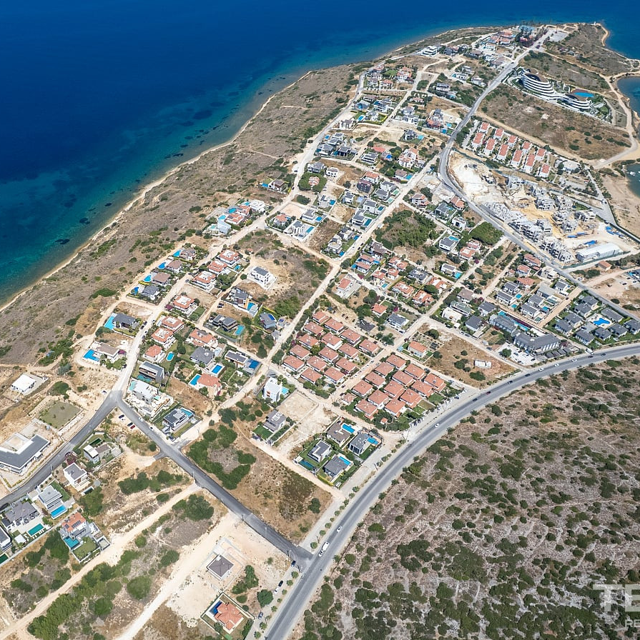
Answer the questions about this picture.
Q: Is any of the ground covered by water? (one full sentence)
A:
Yes, water shows up in the scene.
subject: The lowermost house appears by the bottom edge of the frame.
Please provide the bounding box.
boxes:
[217,598,246,628]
